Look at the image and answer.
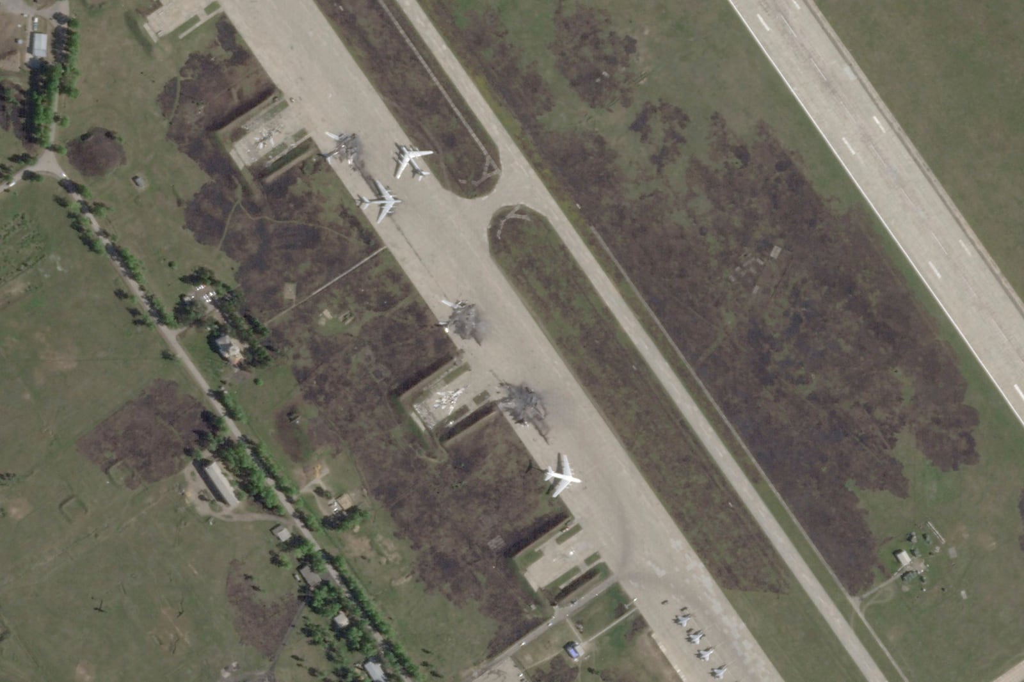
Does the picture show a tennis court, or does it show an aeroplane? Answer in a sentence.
This aerial view contains an aeroplane.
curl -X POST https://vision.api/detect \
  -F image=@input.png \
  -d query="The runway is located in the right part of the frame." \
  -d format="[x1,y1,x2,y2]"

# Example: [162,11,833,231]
[729,0,1024,424]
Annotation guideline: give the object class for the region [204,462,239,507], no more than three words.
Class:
building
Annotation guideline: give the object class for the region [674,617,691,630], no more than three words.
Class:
airplane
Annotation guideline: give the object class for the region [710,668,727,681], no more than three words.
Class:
airplane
